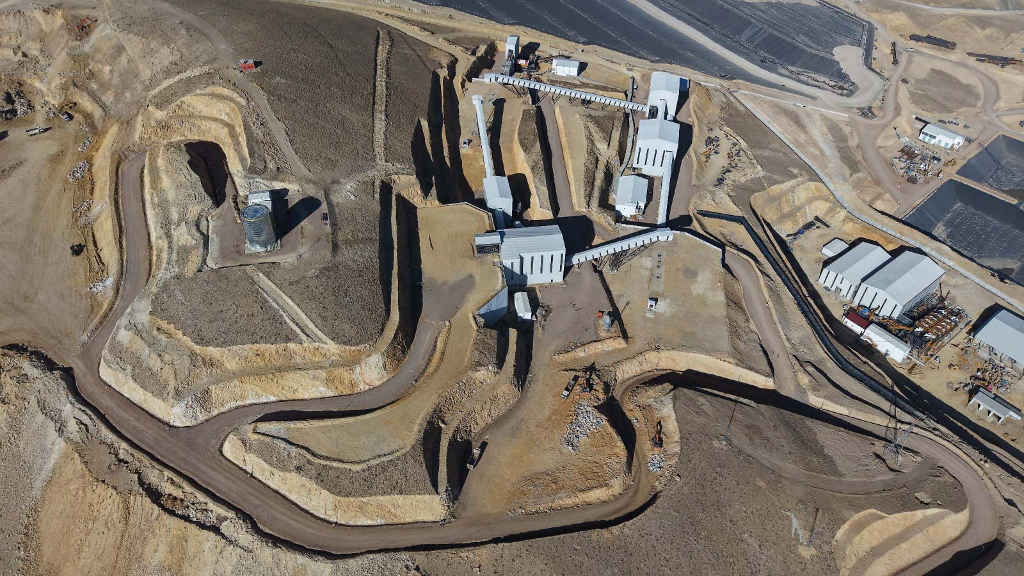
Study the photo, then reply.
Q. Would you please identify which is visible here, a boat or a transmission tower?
transmission tower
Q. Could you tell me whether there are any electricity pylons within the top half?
No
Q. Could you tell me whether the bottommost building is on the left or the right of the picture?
right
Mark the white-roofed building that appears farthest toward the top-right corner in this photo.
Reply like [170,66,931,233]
[921,122,969,153]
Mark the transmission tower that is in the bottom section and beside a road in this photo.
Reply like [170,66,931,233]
[877,419,919,467]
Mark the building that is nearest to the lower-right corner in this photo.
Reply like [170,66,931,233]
[967,390,1024,428]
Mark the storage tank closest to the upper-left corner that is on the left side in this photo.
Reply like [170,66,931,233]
[236,204,280,258]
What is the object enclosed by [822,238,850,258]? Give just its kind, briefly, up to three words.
shed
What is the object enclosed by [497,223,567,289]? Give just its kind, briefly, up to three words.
house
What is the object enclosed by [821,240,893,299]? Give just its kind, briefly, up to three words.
building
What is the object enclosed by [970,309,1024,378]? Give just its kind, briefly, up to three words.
building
